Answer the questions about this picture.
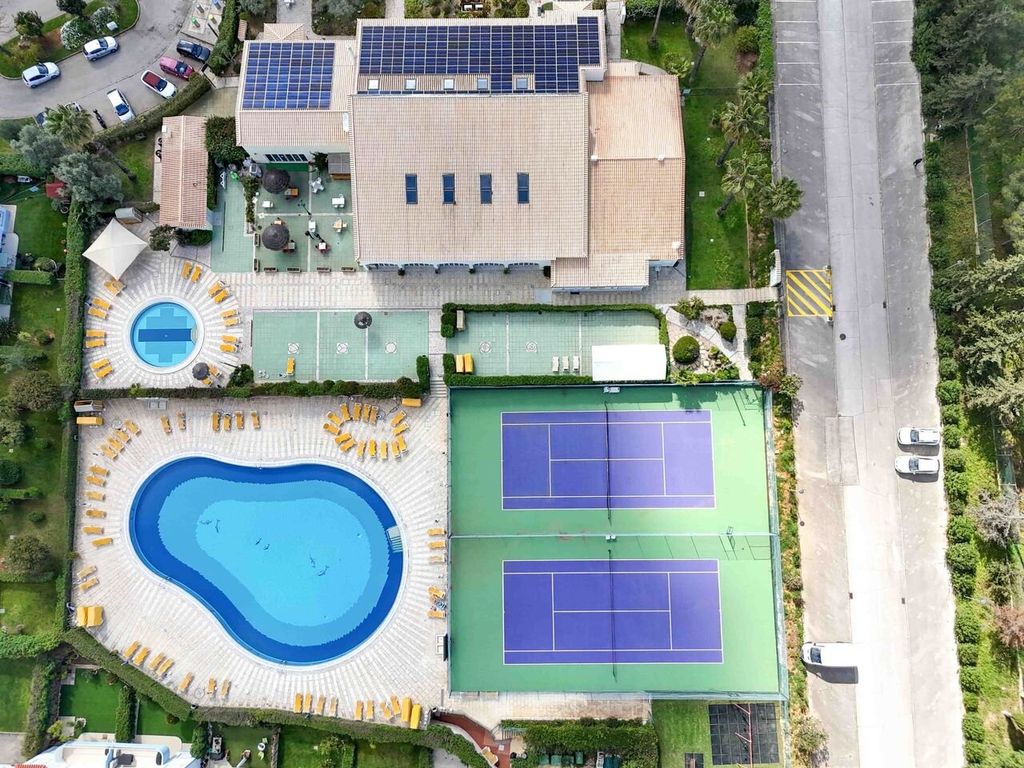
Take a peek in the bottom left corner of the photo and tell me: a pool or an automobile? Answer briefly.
pool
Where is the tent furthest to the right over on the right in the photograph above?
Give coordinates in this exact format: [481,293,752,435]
[591,344,667,382]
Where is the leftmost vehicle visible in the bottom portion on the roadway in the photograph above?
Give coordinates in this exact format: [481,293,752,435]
[800,643,864,669]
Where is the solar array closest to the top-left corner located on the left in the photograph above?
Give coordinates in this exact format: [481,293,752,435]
[242,42,335,108]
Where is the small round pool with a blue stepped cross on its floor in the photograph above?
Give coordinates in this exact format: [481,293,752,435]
[125,295,207,376]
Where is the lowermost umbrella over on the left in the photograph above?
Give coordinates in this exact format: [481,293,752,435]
[194,363,213,380]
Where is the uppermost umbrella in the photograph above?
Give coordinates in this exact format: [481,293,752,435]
[263,169,290,195]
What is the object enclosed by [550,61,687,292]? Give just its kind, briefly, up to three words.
building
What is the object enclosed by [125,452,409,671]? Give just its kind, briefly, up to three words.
swimming pool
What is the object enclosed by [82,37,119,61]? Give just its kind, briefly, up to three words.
car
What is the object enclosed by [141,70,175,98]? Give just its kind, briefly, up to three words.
car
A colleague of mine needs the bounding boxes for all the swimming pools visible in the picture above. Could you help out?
[125,452,409,671]
[125,295,207,376]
